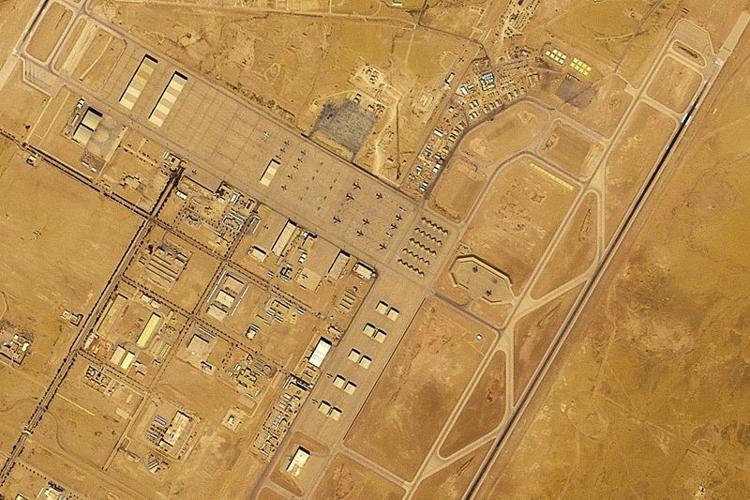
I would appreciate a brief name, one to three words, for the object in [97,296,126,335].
building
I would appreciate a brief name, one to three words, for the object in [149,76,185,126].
hangar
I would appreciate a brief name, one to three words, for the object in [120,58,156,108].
hangar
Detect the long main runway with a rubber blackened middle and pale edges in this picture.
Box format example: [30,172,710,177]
[462,54,726,500]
